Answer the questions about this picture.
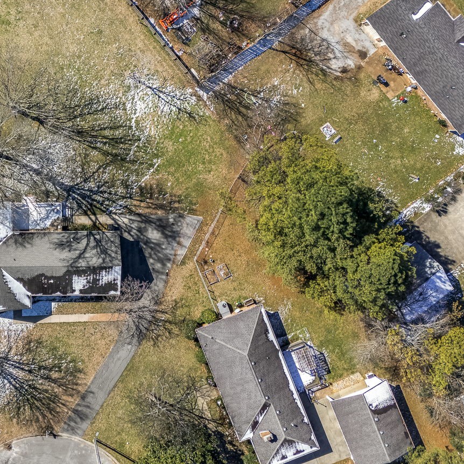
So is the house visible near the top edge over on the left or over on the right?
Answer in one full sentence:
You can find the house visible near the top edge on the right side of the picture.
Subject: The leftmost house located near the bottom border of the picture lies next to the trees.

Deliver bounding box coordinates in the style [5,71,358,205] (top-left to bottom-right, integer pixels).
[195,304,320,464]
